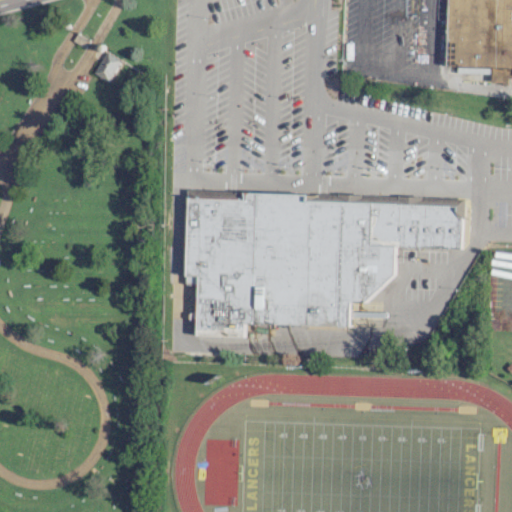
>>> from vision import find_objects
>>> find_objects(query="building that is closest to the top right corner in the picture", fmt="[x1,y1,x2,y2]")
[446,0,512,86]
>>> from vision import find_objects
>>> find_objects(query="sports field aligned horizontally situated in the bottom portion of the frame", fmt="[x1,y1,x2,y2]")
[242,418,481,512]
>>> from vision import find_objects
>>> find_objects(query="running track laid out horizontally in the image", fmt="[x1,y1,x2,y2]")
[175,374,512,512]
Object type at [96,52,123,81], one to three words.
house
